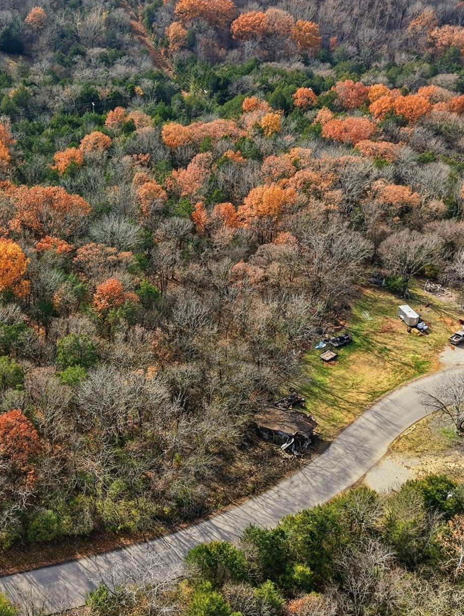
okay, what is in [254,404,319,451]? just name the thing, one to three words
shed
